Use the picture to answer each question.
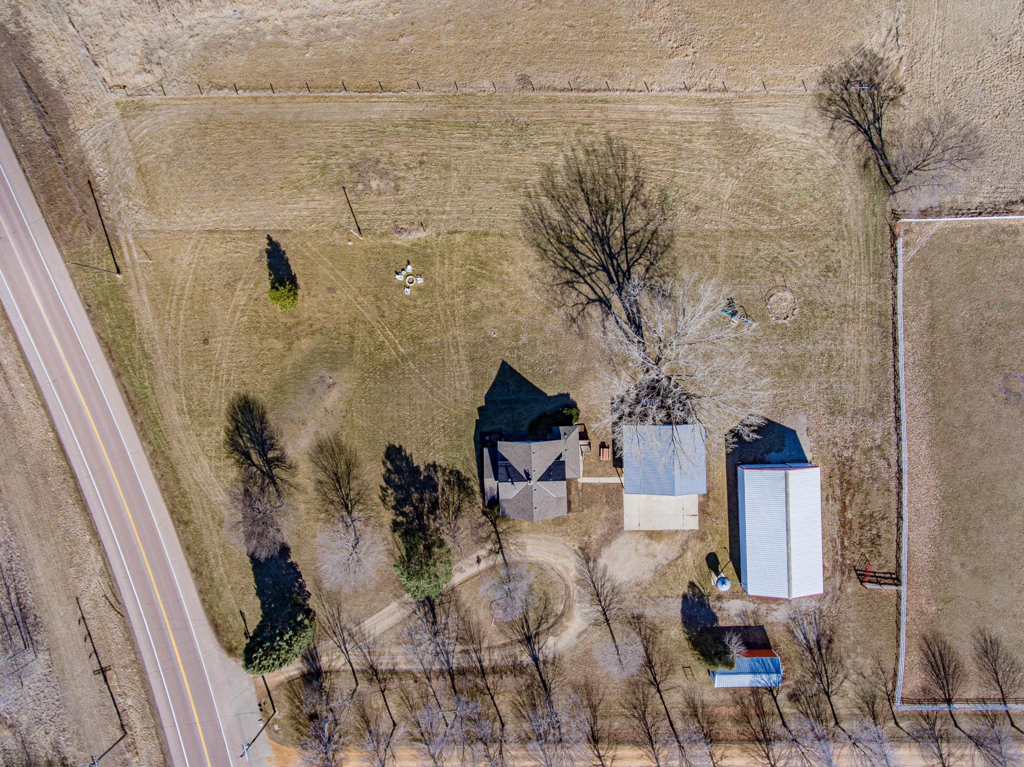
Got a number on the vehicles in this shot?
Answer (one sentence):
There are no vehicles in the image.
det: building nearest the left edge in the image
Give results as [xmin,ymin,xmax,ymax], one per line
[483,427,592,521]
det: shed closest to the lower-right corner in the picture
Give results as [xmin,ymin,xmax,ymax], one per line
[711,650,785,688]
